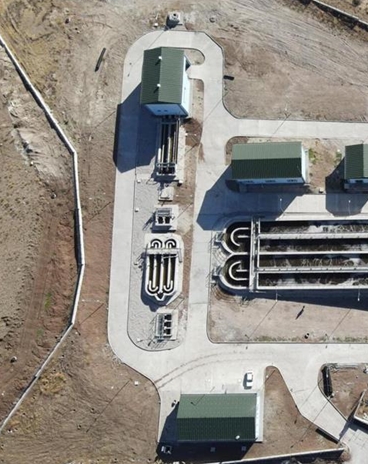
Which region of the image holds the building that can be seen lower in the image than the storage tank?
bottom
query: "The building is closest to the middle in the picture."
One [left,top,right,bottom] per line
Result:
[228,141,305,185]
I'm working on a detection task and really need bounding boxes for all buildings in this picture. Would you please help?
[173,392,261,444]
[344,141,368,181]
[228,141,305,185]
[140,44,195,117]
